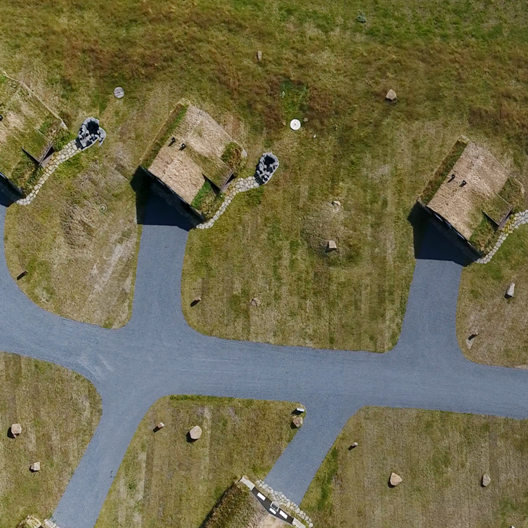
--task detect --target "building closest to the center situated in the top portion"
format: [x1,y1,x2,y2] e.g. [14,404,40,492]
[137,96,252,221]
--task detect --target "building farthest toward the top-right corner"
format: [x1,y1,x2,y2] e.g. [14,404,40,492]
[417,134,528,257]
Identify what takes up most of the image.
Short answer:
grass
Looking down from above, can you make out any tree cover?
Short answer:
No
